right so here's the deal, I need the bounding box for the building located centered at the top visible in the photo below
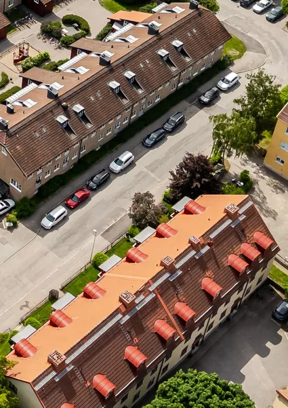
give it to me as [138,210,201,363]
[0,2,235,197]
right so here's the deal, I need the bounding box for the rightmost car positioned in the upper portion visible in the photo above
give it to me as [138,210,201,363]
[265,7,284,22]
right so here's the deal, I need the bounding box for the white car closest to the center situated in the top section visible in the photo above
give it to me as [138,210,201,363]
[109,151,135,173]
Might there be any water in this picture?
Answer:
No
